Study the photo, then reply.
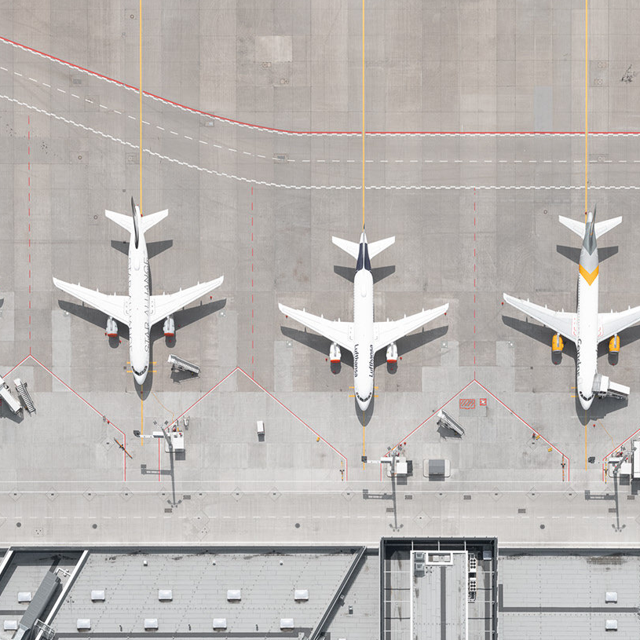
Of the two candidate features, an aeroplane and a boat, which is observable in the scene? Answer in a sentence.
This aerial view contains an aeroplane.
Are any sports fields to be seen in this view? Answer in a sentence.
No, this view has no sports field in it.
